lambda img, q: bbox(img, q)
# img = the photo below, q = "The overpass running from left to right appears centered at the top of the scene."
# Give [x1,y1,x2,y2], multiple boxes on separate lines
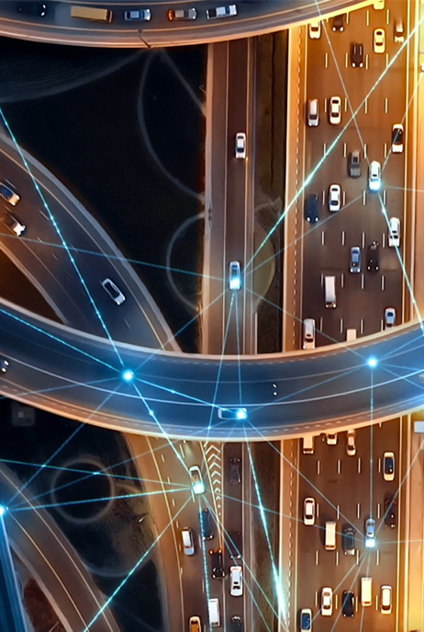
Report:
[0,0,380,50]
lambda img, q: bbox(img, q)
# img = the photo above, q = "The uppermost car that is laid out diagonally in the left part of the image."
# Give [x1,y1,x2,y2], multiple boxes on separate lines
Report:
[0,181,19,204]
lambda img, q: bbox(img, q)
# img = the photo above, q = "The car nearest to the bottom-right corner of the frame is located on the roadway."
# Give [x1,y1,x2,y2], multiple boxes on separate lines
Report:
[380,585,394,613]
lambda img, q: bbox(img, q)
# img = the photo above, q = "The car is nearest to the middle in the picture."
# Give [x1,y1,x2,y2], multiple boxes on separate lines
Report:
[228,261,241,289]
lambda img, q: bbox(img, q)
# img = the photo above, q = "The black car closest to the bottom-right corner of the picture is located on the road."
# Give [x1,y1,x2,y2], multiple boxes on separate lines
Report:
[342,588,354,617]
